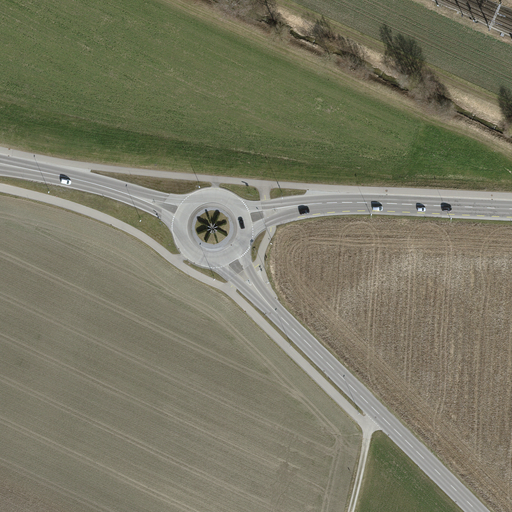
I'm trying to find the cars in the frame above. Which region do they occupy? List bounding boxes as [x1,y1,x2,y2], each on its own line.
[442,207,453,212]
[239,218,245,230]
[416,207,426,212]
[60,179,72,185]
[372,206,383,211]
[299,208,310,214]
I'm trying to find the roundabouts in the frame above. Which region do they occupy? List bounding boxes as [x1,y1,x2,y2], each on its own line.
[161,187,267,272]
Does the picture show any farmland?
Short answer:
Yes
